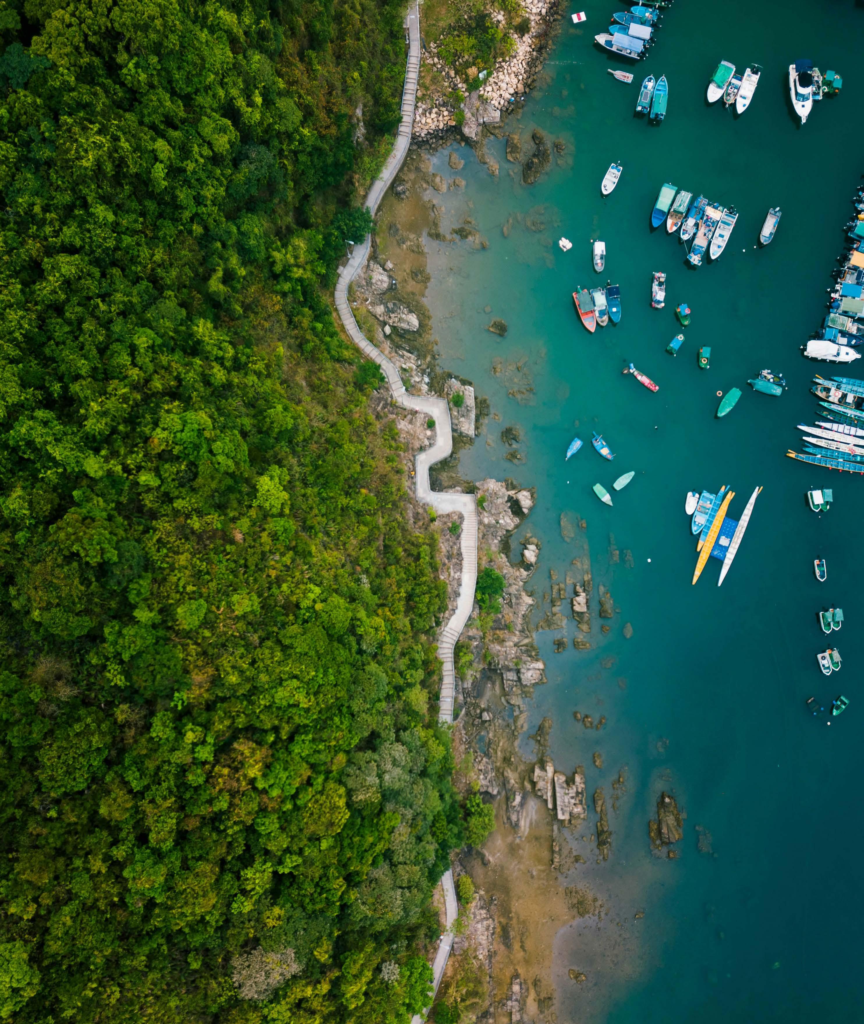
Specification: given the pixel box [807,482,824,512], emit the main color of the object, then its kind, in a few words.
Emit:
white boat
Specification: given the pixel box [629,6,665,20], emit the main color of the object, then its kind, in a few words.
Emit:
blue boat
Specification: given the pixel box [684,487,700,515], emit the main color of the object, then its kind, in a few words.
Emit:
white boat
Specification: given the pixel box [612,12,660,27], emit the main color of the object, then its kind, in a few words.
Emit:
blue boat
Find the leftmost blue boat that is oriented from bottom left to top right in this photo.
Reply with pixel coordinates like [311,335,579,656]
[566,439,582,460]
